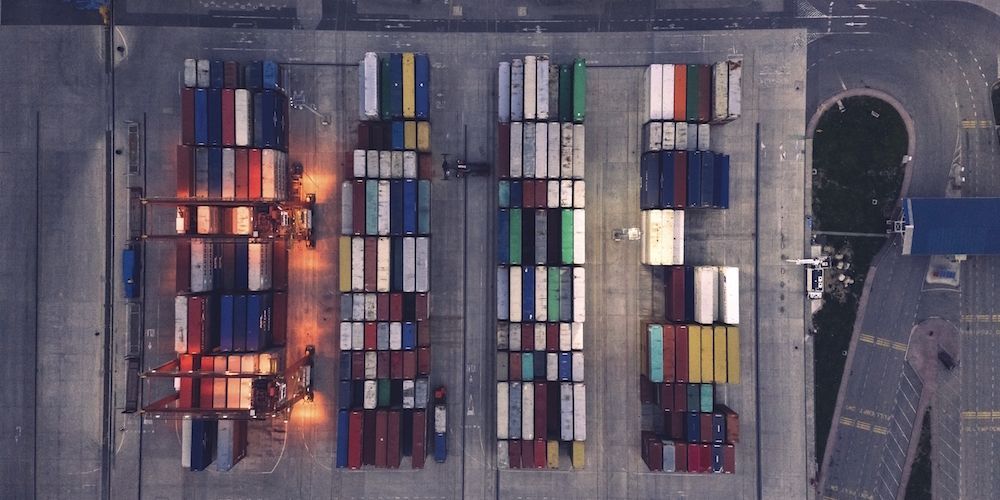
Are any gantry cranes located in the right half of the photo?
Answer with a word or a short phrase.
No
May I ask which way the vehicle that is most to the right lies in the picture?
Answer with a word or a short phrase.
diagonally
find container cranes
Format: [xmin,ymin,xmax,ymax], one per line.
[138,344,313,421]
[138,193,313,253]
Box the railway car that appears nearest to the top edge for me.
[127,119,142,178]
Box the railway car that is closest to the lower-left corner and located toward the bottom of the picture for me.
[126,355,141,413]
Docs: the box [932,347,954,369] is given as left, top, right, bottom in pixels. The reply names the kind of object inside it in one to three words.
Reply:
vehicle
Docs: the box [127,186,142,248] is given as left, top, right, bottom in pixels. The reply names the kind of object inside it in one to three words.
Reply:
rail car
